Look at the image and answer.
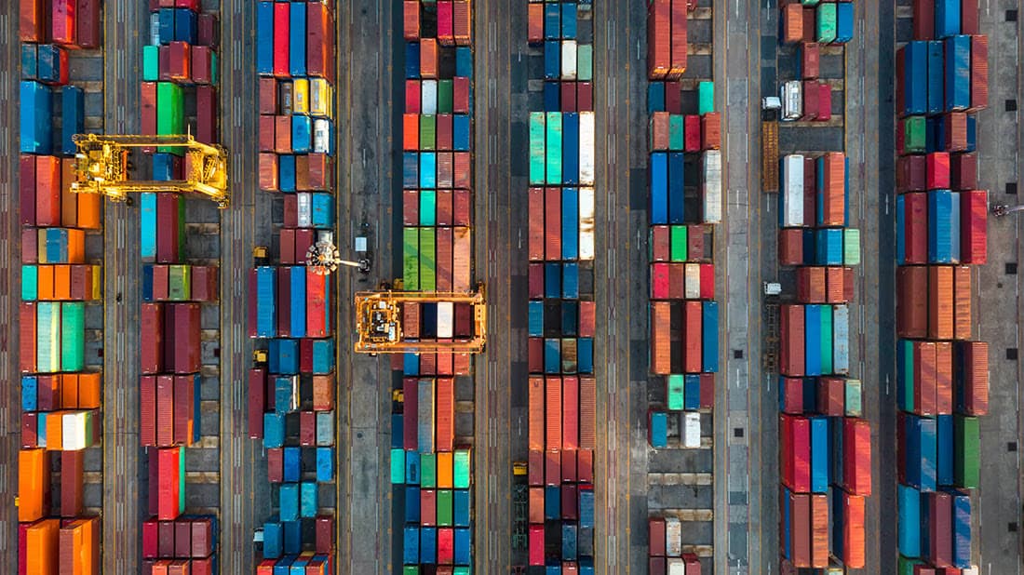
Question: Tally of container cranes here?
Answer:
two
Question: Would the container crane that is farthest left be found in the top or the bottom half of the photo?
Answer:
top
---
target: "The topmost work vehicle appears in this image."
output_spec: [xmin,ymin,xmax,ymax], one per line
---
[762,92,780,122]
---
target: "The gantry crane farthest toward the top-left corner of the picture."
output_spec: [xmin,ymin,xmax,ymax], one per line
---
[70,132,230,206]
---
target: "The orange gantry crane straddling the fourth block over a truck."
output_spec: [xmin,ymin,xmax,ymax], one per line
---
[355,288,485,354]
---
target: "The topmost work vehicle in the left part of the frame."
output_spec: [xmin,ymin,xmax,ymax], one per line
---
[251,243,269,267]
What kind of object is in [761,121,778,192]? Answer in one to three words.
trailer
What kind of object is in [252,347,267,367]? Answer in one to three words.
work vehicle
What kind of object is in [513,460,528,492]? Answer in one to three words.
work vehicle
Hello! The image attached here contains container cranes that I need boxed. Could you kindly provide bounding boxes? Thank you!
[355,288,485,354]
[70,132,230,206]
